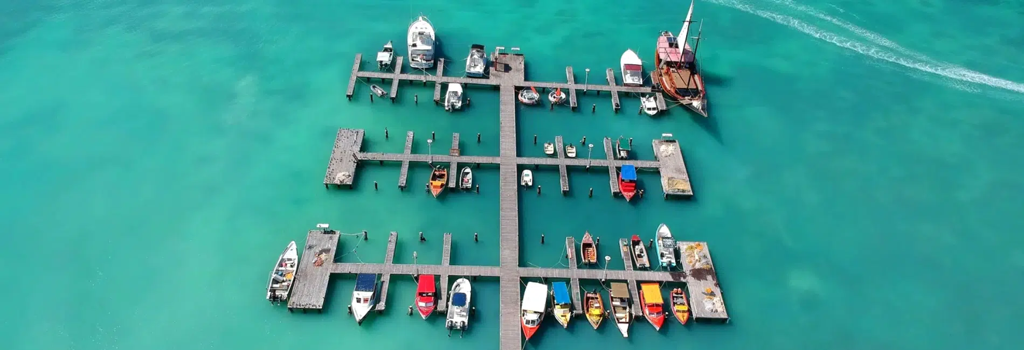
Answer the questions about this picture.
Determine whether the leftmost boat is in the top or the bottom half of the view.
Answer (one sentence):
The leftmost boat is in the bottom half of the image.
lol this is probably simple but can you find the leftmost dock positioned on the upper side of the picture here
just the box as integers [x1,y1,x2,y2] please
[346,54,362,99]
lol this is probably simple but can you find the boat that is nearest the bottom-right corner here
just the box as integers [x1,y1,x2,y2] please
[668,287,689,327]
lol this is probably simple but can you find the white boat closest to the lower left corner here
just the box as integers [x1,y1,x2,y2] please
[264,240,297,308]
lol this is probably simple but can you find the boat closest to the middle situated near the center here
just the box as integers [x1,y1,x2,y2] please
[521,169,533,192]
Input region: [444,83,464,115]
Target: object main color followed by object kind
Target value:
white boat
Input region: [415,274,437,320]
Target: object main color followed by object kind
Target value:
red boat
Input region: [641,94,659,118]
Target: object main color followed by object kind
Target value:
white boat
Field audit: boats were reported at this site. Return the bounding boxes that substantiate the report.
[619,46,643,90]
[553,88,570,108]
[444,83,464,115]
[639,281,664,332]
[618,161,639,204]
[405,9,437,70]
[352,271,379,326]
[519,87,541,107]
[460,166,473,192]
[519,279,551,341]
[376,40,394,70]
[370,86,388,98]
[668,287,689,327]
[583,288,605,330]
[653,223,677,272]
[641,94,659,118]
[579,231,596,269]
[544,140,554,156]
[465,44,487,78]
[551,282,573,329]
[566,143,577,159]
[447,275,473,338]
[631,235,650,271]
[616,133,630,160]
[521,169,533,192]
[428,165,447,200]
[610,281,635,338]
[264,240,297,308]
[415,274,437,320]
